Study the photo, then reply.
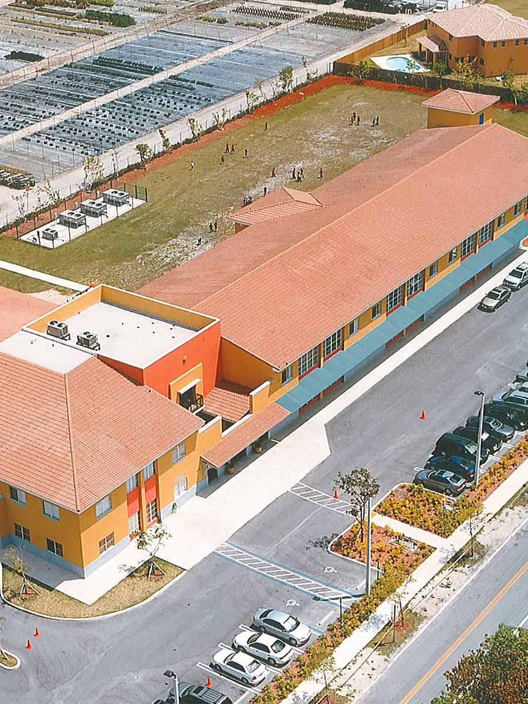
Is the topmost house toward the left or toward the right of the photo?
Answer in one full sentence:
You can find the topmost house on the right side of the picture.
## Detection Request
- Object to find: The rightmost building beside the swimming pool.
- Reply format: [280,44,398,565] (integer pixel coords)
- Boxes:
[416,10,528,76]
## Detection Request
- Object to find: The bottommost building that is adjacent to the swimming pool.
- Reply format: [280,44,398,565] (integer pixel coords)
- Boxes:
[0,87,528,576]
